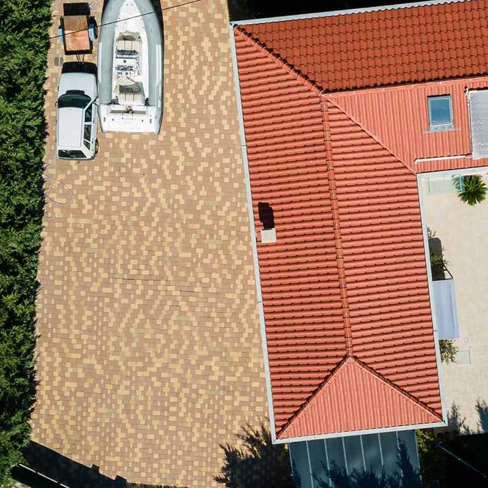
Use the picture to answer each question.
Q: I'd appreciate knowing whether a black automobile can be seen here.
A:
No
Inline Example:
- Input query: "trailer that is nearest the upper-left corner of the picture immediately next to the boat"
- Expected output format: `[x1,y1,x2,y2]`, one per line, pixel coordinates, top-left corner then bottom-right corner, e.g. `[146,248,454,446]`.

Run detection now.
[55,11,99,70]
